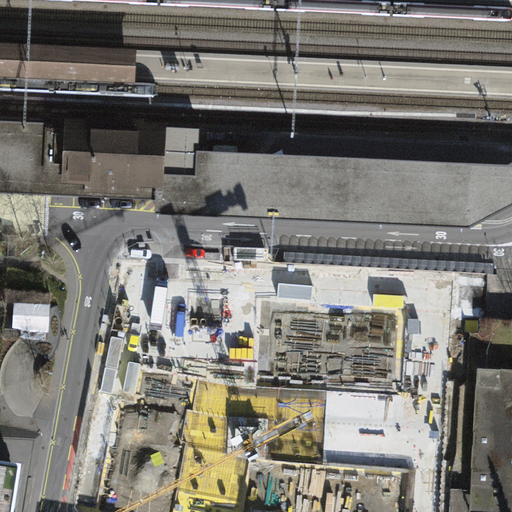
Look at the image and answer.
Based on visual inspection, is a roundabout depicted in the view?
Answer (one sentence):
No, I find no roundabout anywhere in the image.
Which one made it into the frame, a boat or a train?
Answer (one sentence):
Visible in the photo is a train.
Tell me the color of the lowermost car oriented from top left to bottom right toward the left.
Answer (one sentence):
The lowermost car oriented from top left to bottom right toward the left looks black in the image.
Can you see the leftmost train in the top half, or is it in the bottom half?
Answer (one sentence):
It is in the top half that the leftmost train appears.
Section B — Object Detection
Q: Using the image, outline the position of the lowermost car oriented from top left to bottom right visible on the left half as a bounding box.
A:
[61,226,81,250]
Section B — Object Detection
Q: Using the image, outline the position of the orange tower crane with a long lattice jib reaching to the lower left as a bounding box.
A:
[111,405,314,512]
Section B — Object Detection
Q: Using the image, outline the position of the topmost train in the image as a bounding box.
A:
[25,0,511,21]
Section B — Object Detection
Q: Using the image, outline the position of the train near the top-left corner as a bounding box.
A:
[0,78,155,102]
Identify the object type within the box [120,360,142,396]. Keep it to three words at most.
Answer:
building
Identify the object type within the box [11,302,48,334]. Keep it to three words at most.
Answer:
building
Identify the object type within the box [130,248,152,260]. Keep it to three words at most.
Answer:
vehicle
